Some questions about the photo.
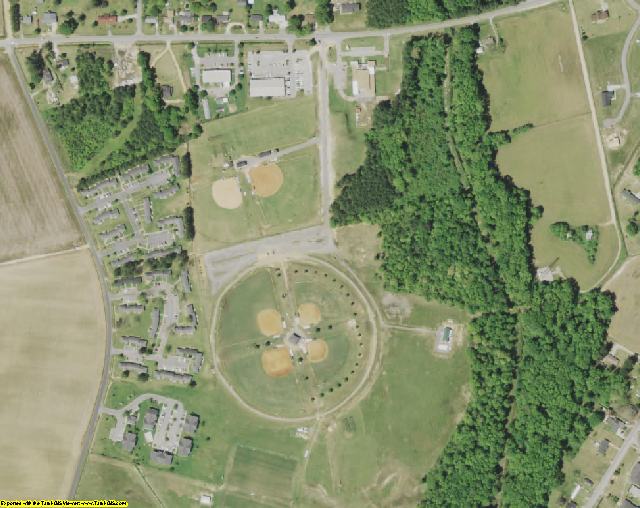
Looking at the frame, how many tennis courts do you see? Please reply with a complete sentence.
There are no tennis courts in the image.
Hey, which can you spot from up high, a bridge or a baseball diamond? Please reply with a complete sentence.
The one in the frame is a baseball diamond.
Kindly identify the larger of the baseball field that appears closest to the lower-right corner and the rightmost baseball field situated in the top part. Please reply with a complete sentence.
It is the rightmost baseball field situated in the top part that is larger, not the baseball field that appears closest to the lower-right corner.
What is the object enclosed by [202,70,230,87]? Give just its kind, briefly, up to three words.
building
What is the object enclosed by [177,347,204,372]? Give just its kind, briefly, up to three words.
building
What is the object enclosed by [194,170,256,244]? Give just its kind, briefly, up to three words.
baseball field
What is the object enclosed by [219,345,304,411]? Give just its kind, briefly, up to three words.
baseball field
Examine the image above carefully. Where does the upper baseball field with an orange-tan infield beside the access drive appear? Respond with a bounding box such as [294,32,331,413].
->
[246,143,323,231]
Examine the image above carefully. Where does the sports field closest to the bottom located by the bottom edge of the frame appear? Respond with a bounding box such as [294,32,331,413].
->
[228,446,298,501]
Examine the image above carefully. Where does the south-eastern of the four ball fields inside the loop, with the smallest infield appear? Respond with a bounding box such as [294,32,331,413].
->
[302,330,354,386]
